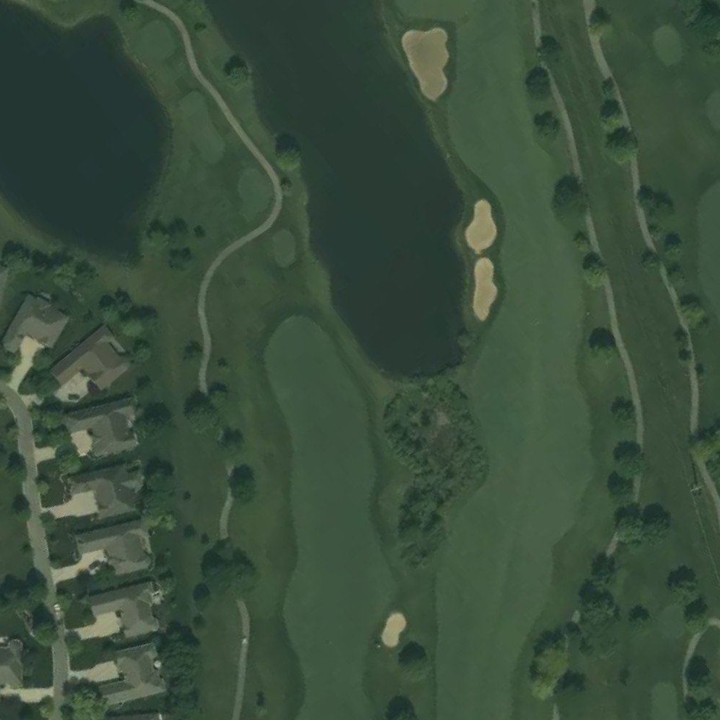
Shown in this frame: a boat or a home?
home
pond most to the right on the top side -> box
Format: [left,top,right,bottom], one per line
[207,0,463,376]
